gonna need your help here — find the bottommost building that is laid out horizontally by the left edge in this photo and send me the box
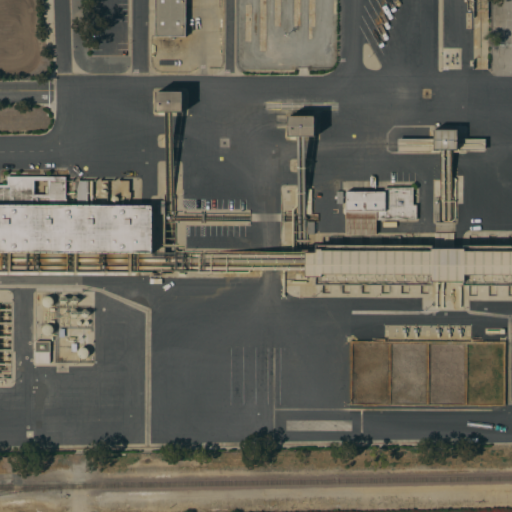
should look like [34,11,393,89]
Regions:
[0,204,152,252]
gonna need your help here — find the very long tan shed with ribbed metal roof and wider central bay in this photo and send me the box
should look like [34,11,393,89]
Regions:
[306,249,512,282]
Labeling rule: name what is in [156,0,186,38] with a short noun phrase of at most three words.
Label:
building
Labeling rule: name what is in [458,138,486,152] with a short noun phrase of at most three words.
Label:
shed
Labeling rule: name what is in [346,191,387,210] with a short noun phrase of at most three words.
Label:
building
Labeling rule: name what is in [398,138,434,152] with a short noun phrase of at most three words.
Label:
shed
